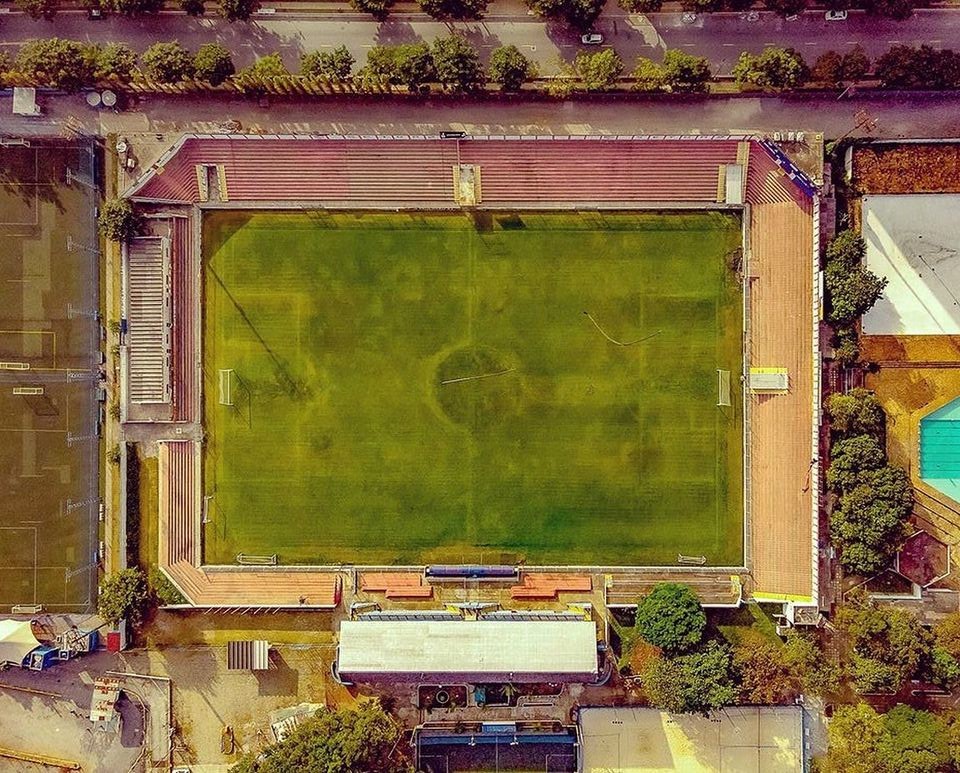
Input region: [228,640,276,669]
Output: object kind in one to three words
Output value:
shed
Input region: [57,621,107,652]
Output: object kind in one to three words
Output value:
trailer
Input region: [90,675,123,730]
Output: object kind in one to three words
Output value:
trailer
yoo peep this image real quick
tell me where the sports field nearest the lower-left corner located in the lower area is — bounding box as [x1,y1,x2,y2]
[0,366,98,614]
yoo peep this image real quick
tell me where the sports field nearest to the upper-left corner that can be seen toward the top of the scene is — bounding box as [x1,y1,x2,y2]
[0,138,98,370]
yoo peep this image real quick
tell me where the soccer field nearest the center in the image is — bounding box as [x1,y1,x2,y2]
[203,211,742,565]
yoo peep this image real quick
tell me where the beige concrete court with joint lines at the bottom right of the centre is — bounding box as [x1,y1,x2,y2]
[578,705,804,773]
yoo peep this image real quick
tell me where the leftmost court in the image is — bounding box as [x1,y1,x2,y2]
[412,721,581,773]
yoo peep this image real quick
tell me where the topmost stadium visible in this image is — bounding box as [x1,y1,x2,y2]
[124,134,820,614]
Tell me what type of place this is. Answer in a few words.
sports ground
